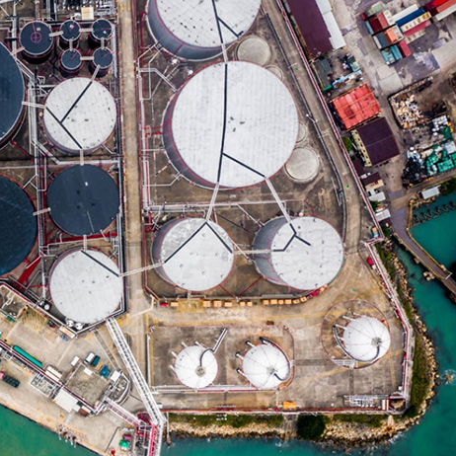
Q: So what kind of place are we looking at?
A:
industrial area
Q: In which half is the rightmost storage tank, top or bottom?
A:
bottom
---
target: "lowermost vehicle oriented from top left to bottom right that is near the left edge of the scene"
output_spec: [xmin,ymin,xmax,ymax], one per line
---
[0,370,20,387]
